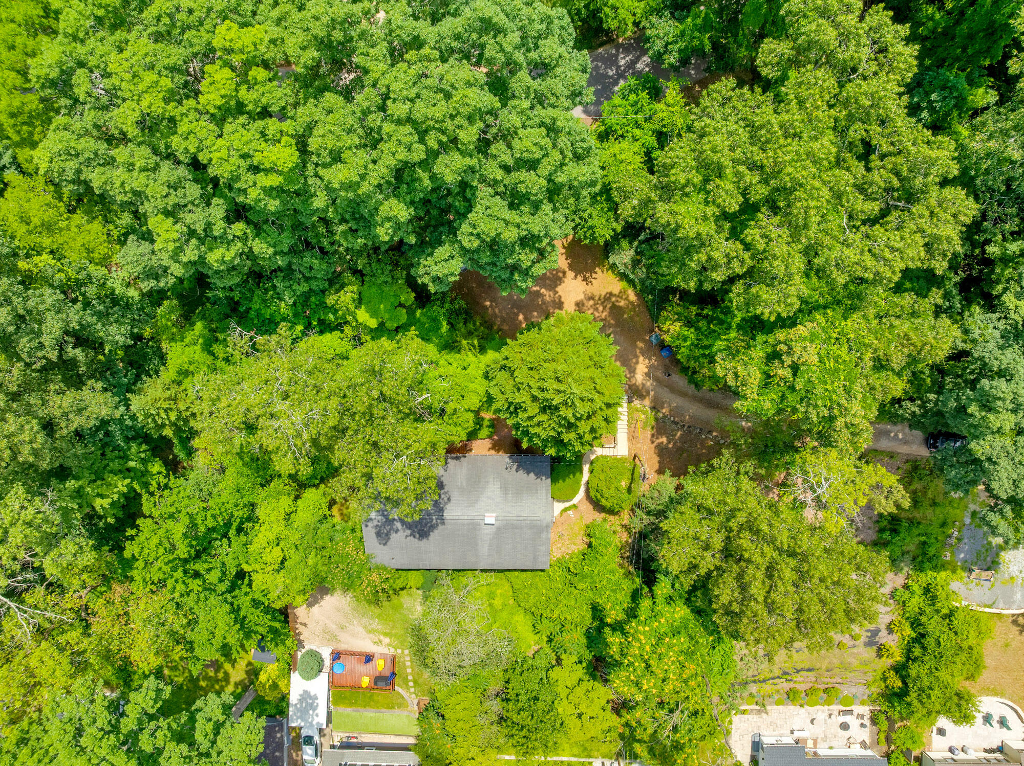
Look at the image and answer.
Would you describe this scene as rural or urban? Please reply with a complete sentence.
From above, the setting appears rural.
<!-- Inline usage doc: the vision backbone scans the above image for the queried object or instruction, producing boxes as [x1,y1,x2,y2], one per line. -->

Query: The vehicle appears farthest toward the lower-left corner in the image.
[298,727,323,766]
